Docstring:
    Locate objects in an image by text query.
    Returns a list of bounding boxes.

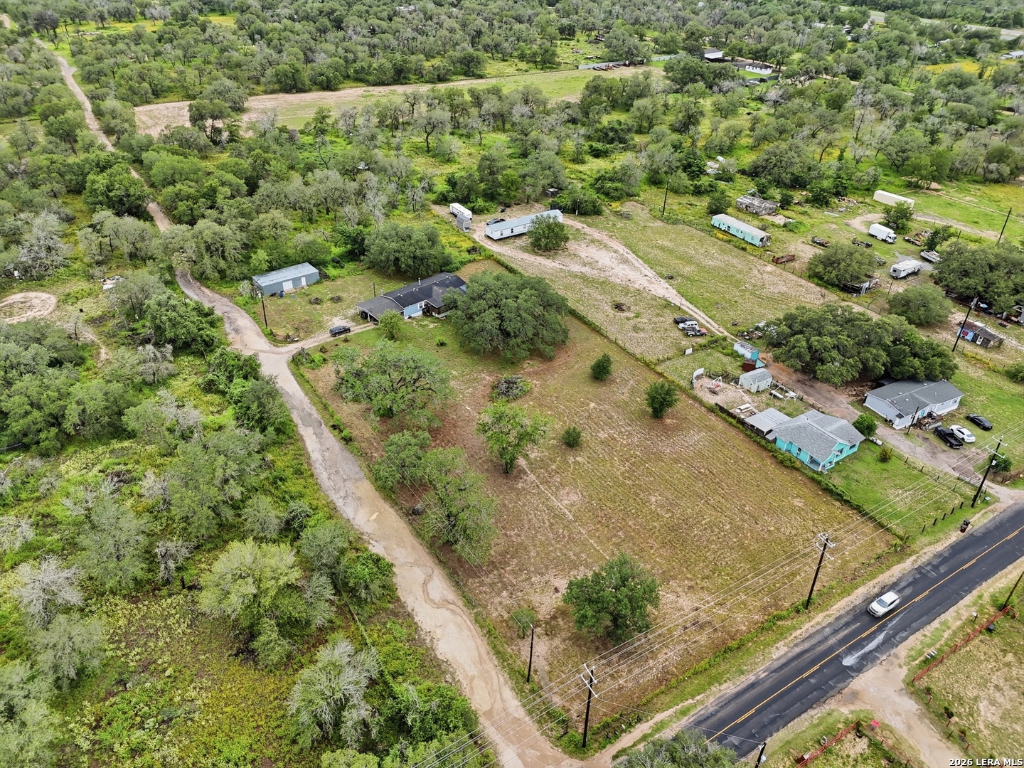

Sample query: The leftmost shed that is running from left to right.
[250,260,318,295]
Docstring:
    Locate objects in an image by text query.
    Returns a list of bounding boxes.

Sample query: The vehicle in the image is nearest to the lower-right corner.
[868,588,905,618]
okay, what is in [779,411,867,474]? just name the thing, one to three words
house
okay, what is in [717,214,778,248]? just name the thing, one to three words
house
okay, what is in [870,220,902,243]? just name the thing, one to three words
truck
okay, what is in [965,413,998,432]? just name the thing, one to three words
car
